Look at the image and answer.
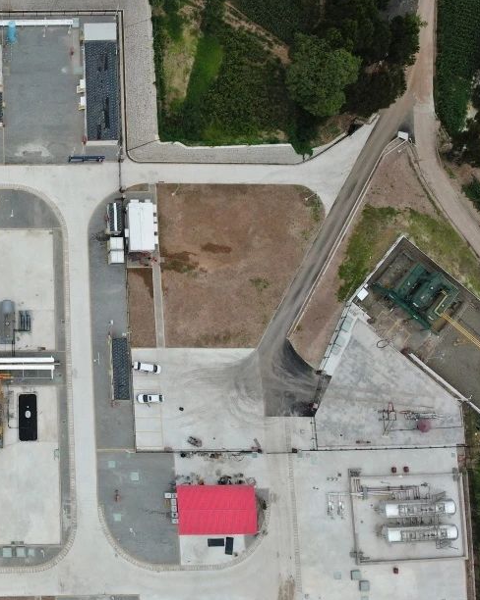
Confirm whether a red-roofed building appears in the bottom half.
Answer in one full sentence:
Yes, looking in the bottom half, one can make out a red-roofed building.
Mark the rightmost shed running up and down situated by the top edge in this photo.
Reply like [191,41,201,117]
[82,22,121,146]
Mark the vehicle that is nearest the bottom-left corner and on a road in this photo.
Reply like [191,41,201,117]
[136,392,164,405]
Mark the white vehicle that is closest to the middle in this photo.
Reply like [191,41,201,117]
[135,360,162,375]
